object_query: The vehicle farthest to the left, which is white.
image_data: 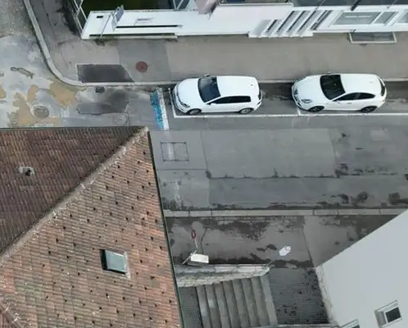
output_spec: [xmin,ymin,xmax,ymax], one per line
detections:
[171,70,260,114]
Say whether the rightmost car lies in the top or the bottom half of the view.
top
